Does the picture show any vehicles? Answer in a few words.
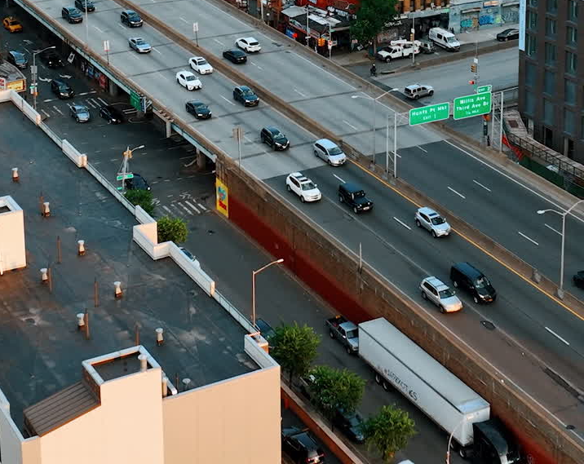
Yes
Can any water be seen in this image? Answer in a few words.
No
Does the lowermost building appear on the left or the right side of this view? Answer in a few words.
left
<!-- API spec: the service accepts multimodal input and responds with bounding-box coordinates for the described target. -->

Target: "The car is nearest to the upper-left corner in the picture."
[3,17,22,32]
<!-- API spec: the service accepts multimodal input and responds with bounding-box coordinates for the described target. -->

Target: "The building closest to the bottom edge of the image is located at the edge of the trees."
[0,90,280,464]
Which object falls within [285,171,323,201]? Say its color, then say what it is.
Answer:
white car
